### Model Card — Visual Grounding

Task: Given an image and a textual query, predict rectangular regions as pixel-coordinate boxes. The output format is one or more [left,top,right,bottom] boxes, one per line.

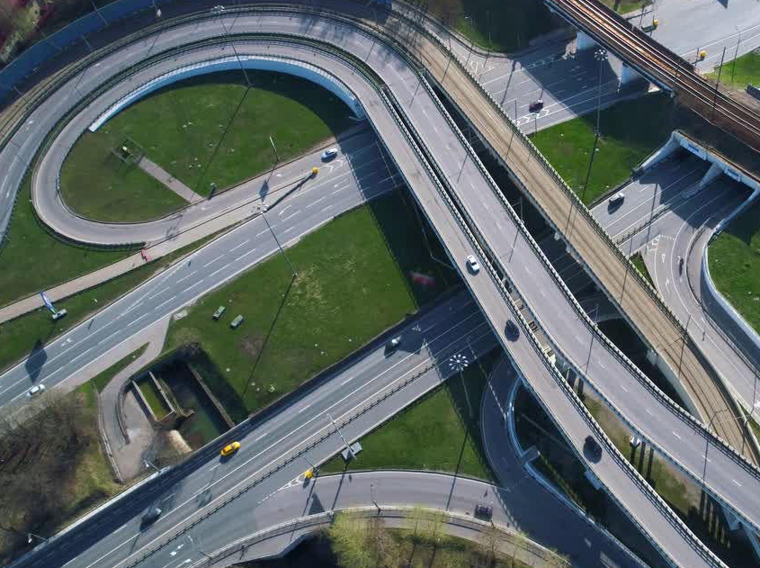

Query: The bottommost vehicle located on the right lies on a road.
[472,504,496,516]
